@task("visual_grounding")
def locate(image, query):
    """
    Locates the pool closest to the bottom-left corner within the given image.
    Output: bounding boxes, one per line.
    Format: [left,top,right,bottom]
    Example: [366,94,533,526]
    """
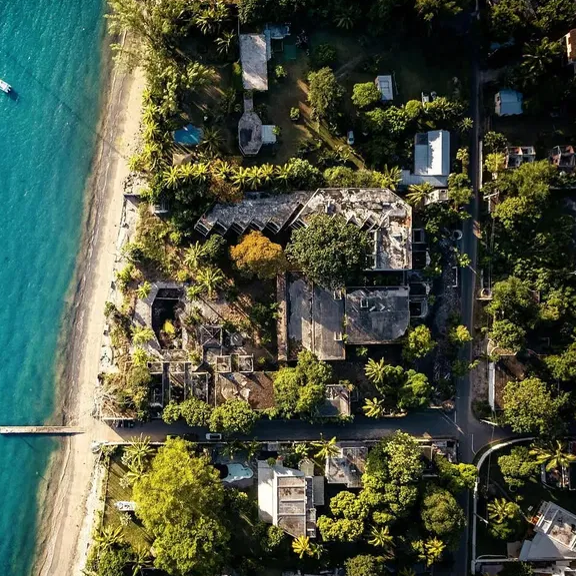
[217,457,258,488]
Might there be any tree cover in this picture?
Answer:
Yes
